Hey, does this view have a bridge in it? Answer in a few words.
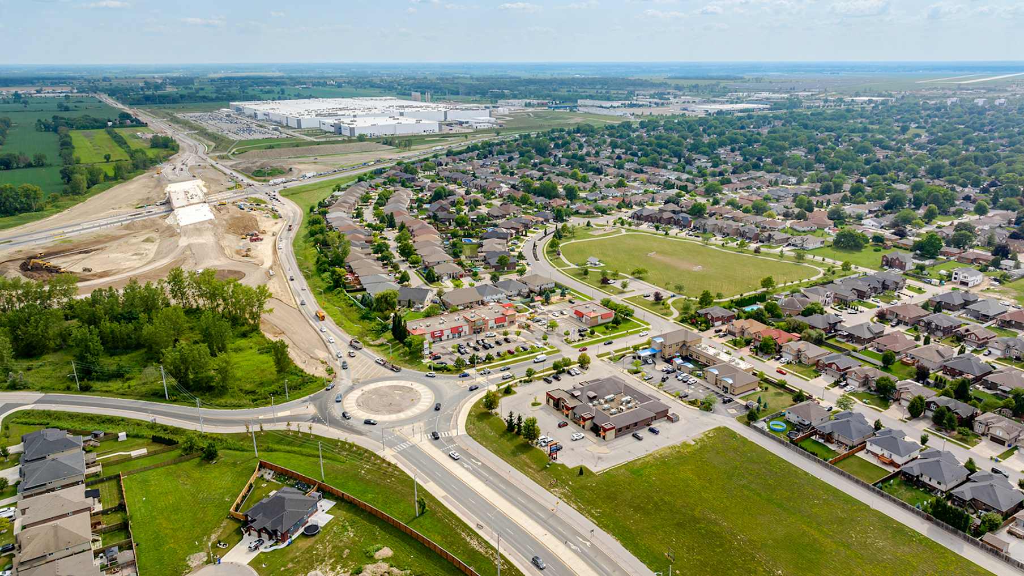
Yes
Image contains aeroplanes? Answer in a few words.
No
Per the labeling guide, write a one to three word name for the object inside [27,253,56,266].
vehicle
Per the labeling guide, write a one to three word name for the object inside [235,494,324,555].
house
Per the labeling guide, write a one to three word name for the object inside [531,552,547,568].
car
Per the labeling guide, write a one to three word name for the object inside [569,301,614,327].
building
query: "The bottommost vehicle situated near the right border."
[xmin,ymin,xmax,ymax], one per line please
[990,462,1011,476]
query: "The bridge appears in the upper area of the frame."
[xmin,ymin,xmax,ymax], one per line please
[165,179,215,227]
